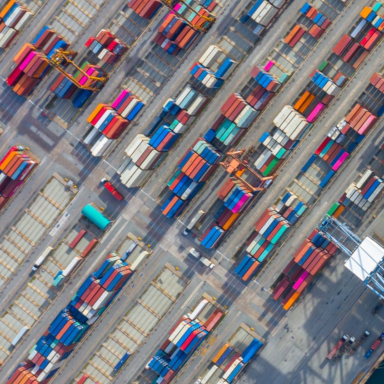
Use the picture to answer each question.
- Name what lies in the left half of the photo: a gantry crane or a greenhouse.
gantry crane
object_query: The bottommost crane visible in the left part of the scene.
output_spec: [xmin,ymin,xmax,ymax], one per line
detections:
[47,47,111,94]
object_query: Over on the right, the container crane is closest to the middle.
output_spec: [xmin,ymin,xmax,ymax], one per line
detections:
[220,145,278,192]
